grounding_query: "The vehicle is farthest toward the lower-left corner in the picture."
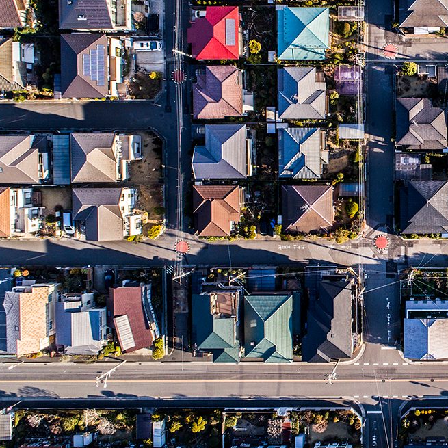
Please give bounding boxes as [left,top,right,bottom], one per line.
[101,264,114,291]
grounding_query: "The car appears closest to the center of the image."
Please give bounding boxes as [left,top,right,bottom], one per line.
[187,125,205,137]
